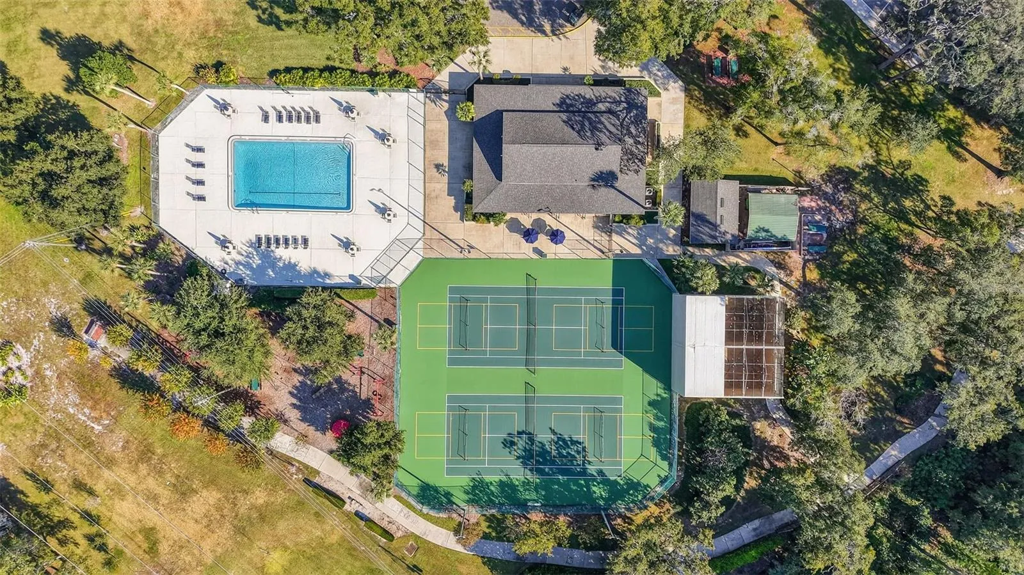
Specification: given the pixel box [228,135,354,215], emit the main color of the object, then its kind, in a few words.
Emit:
blue swimming pool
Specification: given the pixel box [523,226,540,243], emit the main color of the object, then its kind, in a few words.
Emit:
blue umbrella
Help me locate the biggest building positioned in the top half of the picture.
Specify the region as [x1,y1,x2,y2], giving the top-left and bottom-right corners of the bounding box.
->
[473,85,647,213]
